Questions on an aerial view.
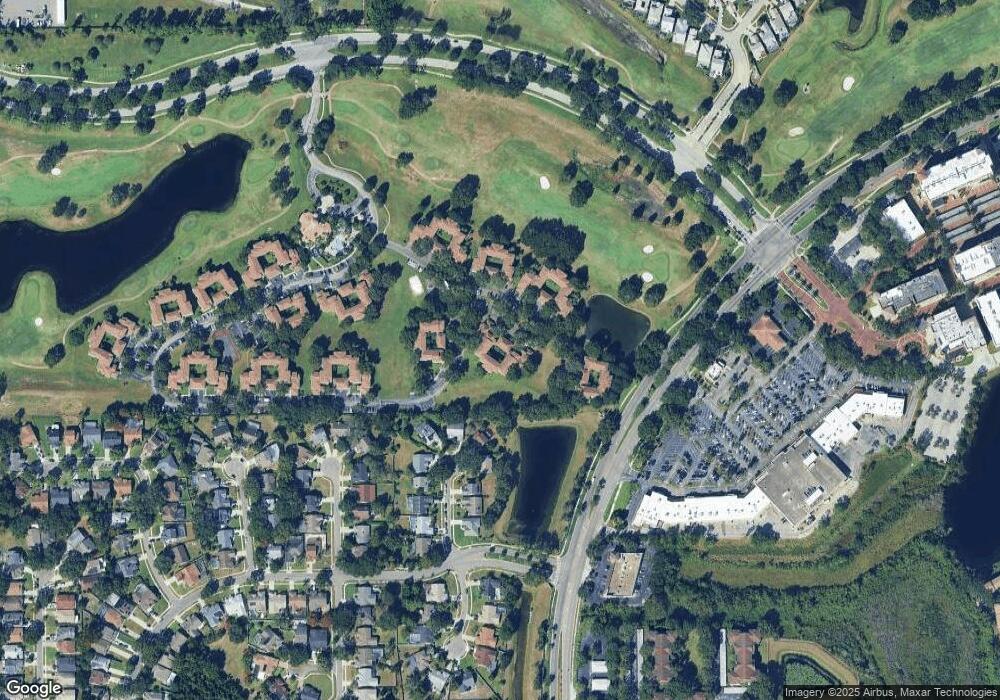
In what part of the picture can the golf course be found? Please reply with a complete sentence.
You can find the golf course in the top area of the picture.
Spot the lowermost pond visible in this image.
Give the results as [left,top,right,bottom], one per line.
[510,425,577,534]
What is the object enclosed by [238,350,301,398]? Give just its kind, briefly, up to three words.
building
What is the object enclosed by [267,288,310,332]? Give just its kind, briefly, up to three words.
building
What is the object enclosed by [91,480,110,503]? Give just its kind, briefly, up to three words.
house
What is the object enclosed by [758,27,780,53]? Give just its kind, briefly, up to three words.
house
